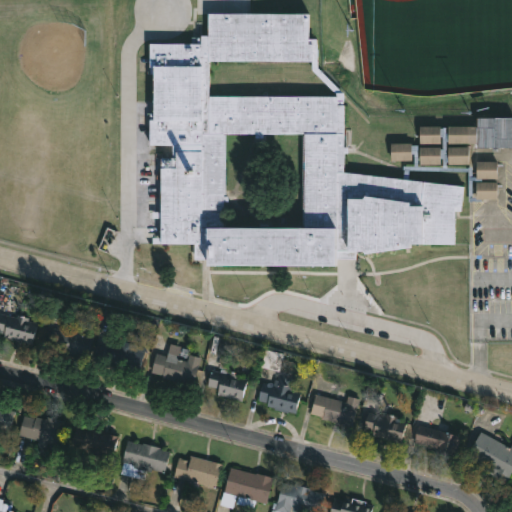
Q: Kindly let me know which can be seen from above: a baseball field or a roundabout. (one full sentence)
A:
There is a baseball field in the scene.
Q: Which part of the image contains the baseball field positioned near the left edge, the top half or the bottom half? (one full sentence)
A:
You can find the baseball field positioned near the left edge in the top half.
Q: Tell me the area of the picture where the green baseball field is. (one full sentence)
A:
The green baseball field is in the top right part of the image.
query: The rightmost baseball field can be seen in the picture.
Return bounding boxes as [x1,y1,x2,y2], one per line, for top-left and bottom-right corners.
[358,0,512,94]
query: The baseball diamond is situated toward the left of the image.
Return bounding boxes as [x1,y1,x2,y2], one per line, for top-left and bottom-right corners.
[20,22,86,92]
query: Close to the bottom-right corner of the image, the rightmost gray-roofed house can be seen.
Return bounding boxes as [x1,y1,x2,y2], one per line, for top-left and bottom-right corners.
[476,436,512,478]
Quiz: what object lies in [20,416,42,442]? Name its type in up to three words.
house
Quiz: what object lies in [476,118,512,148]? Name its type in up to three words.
shed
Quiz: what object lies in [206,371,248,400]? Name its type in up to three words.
house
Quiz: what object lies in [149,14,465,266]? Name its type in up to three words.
building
